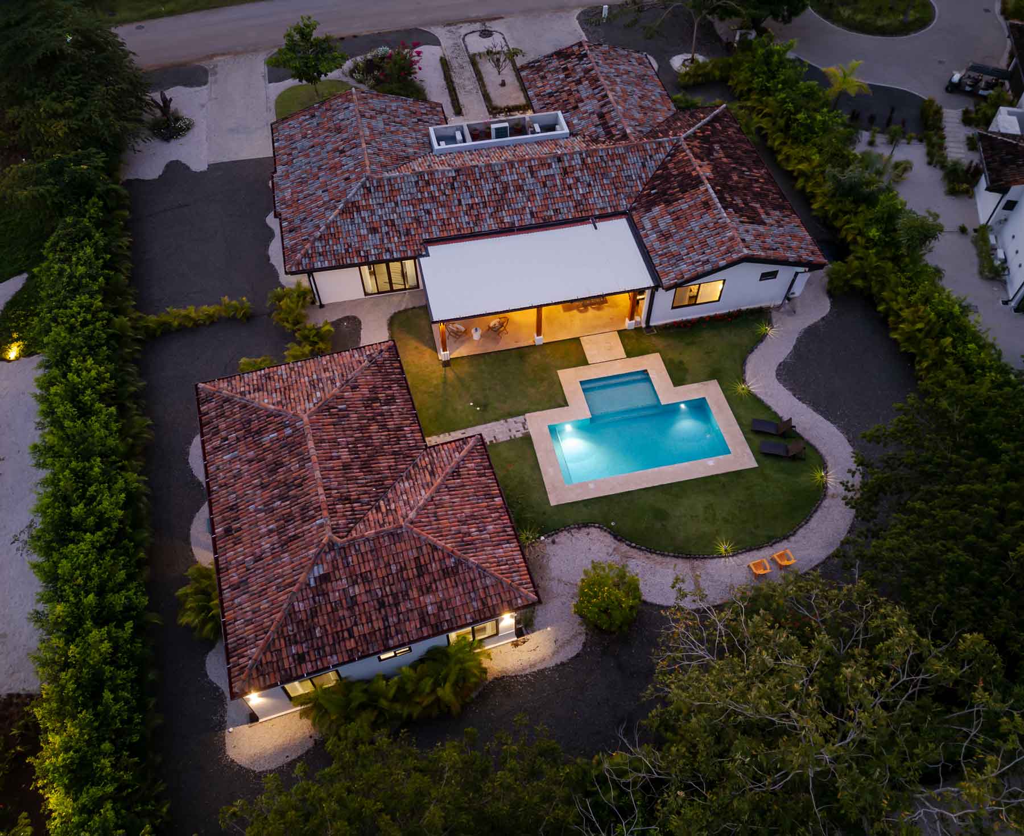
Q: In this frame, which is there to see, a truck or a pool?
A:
pool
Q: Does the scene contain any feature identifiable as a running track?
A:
No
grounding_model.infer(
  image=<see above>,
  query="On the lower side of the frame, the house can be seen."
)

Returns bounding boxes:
[192,337,545,725]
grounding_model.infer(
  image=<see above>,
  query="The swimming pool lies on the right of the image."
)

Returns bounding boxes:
[526,352,758,504]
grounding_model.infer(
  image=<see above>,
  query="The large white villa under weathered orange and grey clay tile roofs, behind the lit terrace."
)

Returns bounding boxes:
[269,38,829,364]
